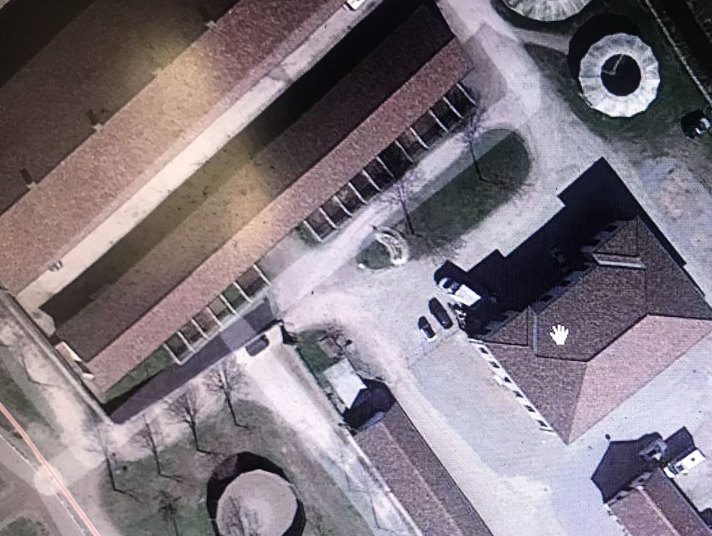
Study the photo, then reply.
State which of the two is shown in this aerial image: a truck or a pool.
truck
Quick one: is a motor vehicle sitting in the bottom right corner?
Yes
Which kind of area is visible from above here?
industrial area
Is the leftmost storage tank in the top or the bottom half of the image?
bottom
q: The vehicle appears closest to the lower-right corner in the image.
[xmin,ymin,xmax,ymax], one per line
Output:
[662,448,706,477]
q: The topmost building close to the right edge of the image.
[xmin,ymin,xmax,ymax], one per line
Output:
[466,215,712,444]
